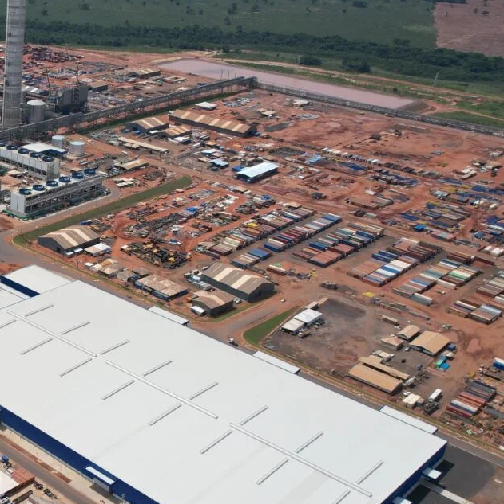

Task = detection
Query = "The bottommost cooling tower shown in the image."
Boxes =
[7,167,110,216]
